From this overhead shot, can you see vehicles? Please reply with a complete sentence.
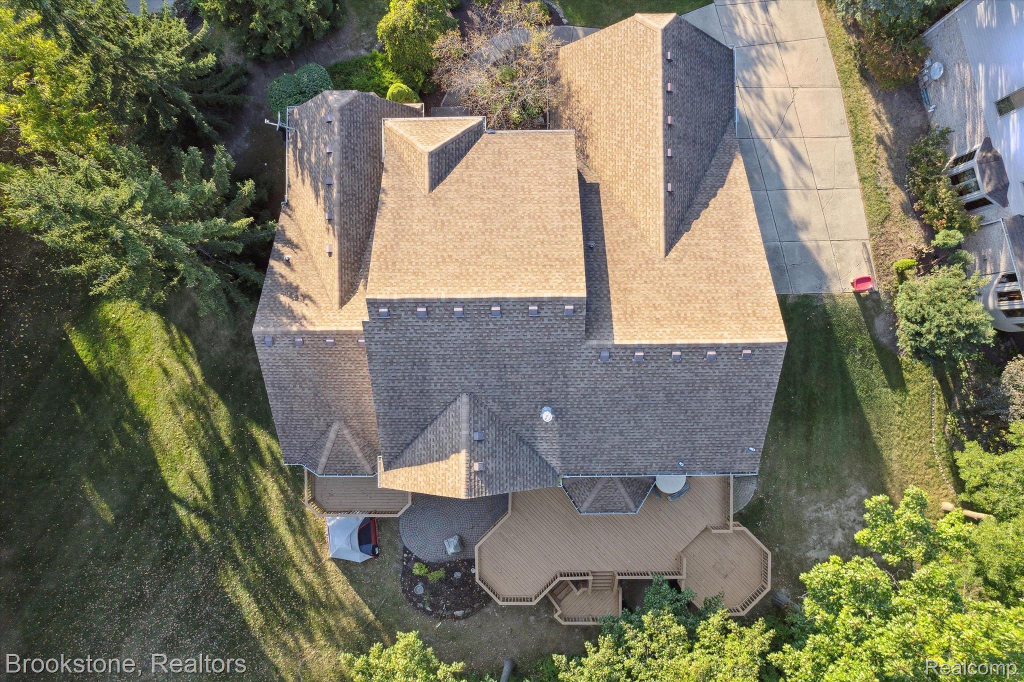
No, I can see no vehicle in this picture.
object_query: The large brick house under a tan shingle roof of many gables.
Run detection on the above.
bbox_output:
[254,14,787,516]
